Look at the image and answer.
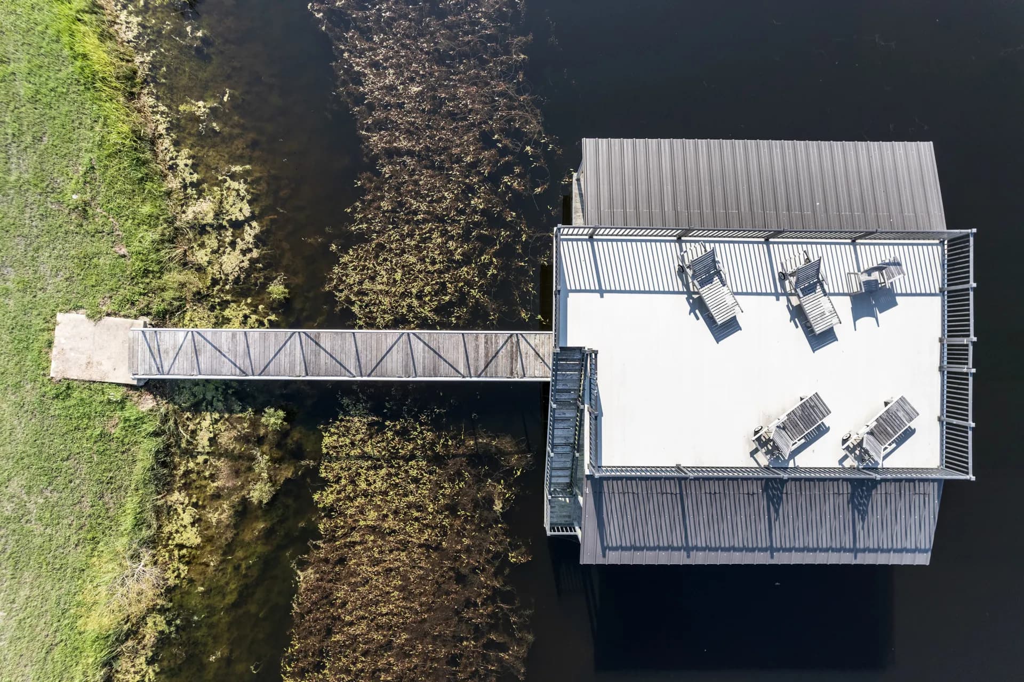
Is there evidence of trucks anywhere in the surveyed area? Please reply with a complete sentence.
No, there isn't any truck down there.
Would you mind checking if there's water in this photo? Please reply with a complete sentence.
Yes, water can be seen from above here.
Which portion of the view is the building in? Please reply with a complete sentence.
The building sits in the right section of the image.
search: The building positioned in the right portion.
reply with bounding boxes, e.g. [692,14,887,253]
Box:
[543,138,977,567]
